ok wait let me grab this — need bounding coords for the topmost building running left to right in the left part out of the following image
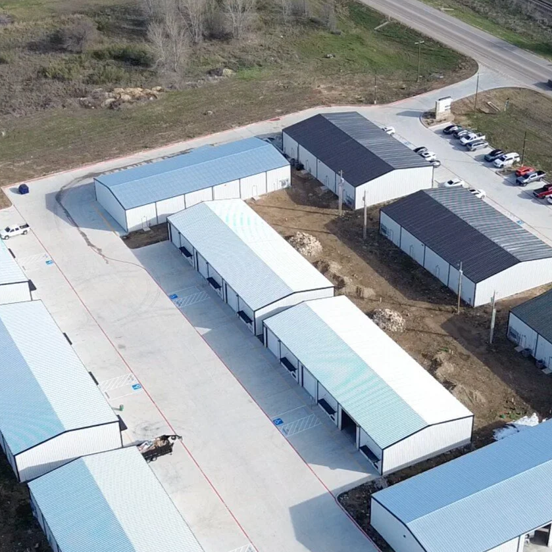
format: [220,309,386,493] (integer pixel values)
[93,136,291,232]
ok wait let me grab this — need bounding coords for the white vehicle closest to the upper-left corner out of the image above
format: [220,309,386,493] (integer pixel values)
[0,223,31,240]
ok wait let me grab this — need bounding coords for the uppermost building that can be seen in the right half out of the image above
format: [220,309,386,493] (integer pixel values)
[281,111,435,208]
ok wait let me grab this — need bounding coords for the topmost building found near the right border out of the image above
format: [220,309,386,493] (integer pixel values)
[379,186,552,307]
